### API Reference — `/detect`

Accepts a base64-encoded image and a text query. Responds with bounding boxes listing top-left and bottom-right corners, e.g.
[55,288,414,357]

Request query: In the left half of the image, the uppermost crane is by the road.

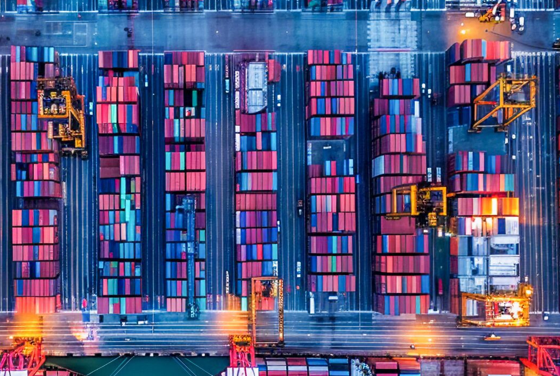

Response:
[37,77,85,155]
